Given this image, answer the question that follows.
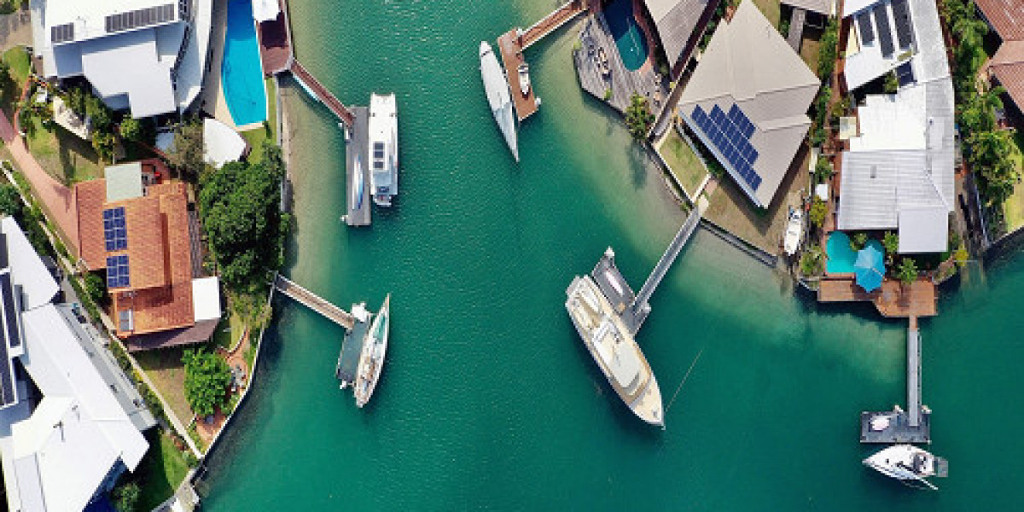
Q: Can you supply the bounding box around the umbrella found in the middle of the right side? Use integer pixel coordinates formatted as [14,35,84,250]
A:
[846,249,886,288]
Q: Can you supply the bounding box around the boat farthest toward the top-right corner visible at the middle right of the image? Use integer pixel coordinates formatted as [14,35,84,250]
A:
[784,206,802,254]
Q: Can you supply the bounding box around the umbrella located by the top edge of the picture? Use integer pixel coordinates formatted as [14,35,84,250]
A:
[251,0,284,21]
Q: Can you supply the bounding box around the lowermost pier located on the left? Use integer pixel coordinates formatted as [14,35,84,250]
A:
[335,304,373,387]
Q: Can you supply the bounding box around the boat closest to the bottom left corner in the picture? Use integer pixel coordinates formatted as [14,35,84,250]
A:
[354,295,391,408]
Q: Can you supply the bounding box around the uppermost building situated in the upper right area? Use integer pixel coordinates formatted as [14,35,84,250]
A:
[777,0,825,37]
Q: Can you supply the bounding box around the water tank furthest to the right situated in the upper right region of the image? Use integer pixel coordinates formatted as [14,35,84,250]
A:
[834,117,855,141]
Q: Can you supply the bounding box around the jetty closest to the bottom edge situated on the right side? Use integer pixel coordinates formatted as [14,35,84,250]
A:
[859,405,933,443]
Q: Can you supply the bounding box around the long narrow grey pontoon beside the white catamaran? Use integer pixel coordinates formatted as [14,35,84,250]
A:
[341,105,371,226]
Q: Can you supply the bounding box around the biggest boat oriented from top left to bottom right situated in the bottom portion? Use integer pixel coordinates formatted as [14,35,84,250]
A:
[563,276,668,433]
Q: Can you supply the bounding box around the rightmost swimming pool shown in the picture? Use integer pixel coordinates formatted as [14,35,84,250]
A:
[823,229,888,276]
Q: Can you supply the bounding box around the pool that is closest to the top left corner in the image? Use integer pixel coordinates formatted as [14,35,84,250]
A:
[219,0,270,130]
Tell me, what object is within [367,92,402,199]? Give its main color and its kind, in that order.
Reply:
white boat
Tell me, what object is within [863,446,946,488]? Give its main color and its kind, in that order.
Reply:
white boat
